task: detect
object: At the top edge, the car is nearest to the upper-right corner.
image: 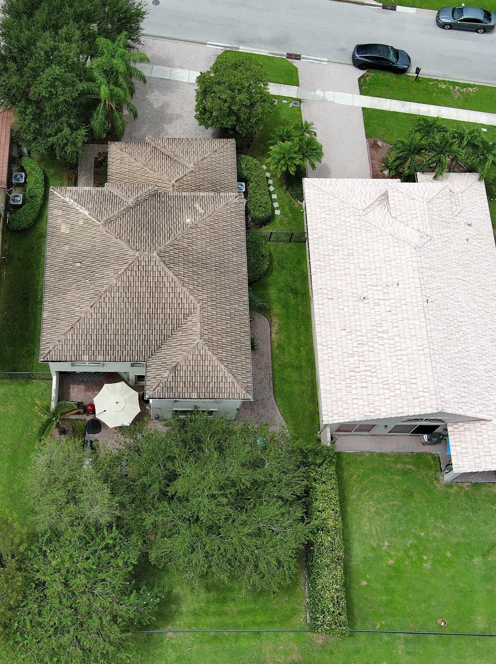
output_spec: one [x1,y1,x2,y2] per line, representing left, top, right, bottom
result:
[439,4,496,35]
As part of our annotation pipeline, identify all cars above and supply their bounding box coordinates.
[354,43,413,73]
[439,4,496,35]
